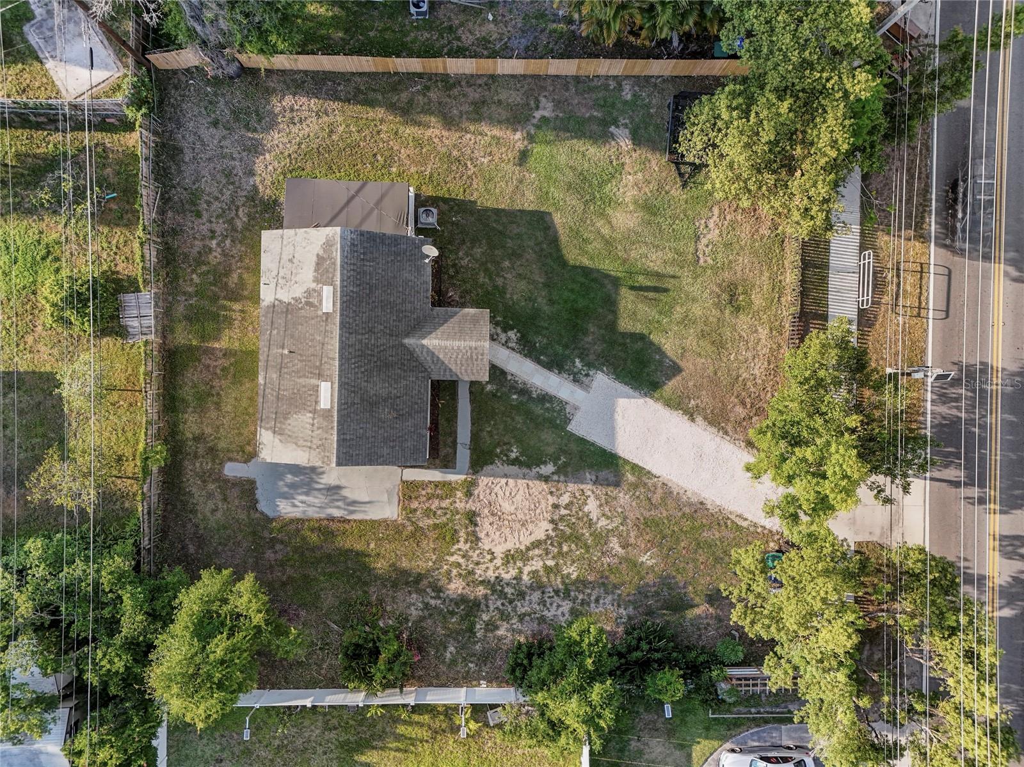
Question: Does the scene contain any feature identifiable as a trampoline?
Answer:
No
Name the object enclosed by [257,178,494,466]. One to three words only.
house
